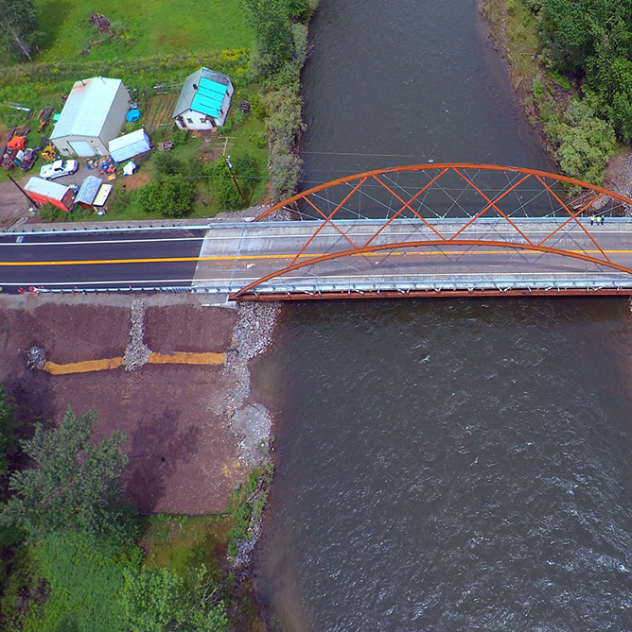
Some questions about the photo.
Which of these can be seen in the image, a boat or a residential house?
residential house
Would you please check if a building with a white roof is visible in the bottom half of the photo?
No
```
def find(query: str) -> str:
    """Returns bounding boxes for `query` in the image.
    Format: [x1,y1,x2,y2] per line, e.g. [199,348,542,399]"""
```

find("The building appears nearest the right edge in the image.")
[169,73,226,132]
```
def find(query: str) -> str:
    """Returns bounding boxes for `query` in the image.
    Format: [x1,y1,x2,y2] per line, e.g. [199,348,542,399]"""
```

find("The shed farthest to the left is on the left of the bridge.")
[23,172,79,210]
